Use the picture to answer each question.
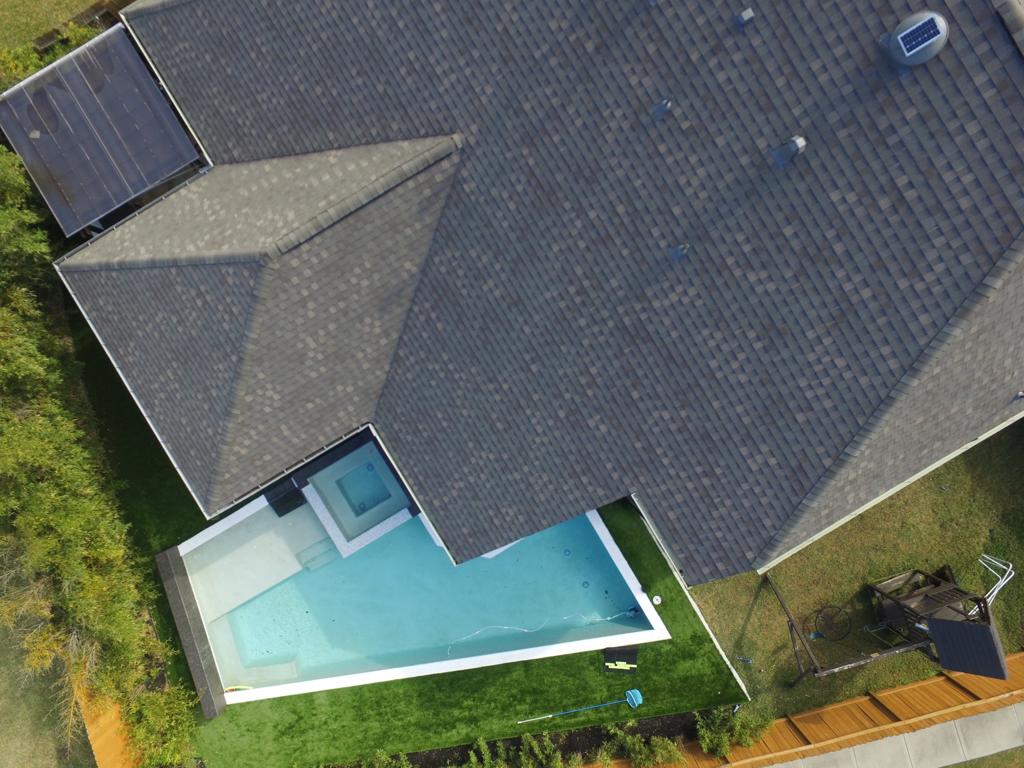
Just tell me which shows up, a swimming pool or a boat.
swimming pool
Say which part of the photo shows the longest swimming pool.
bottom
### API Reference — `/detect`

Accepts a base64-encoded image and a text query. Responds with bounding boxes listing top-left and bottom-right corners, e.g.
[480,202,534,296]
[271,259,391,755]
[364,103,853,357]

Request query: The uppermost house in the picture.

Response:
[46,0,1024,593]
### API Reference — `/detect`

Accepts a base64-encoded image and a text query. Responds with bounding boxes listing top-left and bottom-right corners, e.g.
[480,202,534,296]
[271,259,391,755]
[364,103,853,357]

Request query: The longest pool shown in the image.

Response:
[178,483,671,704]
